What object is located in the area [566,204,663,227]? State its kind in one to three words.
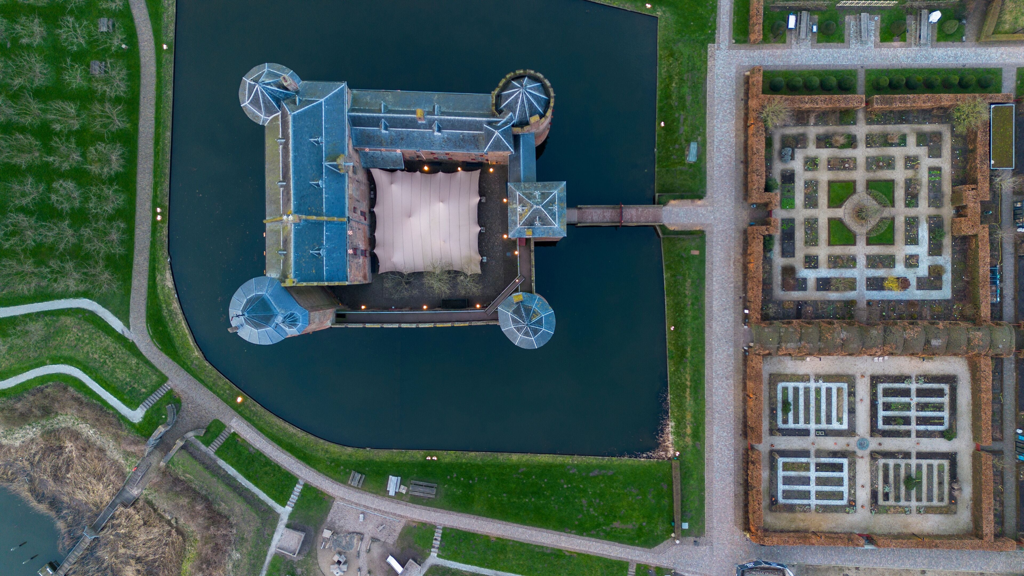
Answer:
bridge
